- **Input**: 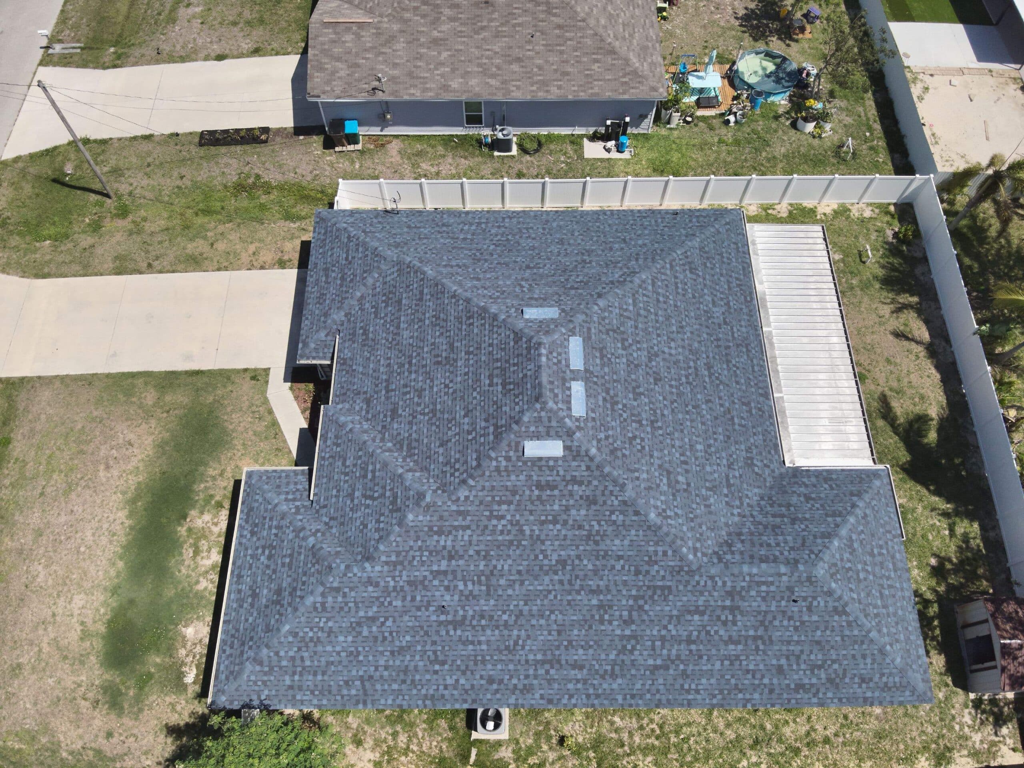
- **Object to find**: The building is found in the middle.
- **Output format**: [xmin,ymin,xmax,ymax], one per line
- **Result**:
[203,193,941,709]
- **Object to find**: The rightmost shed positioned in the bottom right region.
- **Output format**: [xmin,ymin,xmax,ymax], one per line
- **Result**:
[951,591,1024,699]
